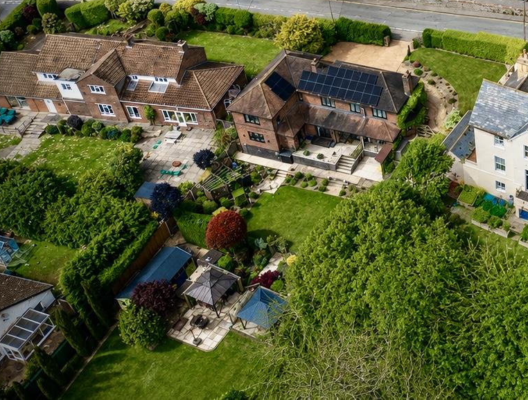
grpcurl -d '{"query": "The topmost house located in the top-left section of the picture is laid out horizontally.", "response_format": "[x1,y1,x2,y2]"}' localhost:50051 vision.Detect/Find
[0,27,245,130]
